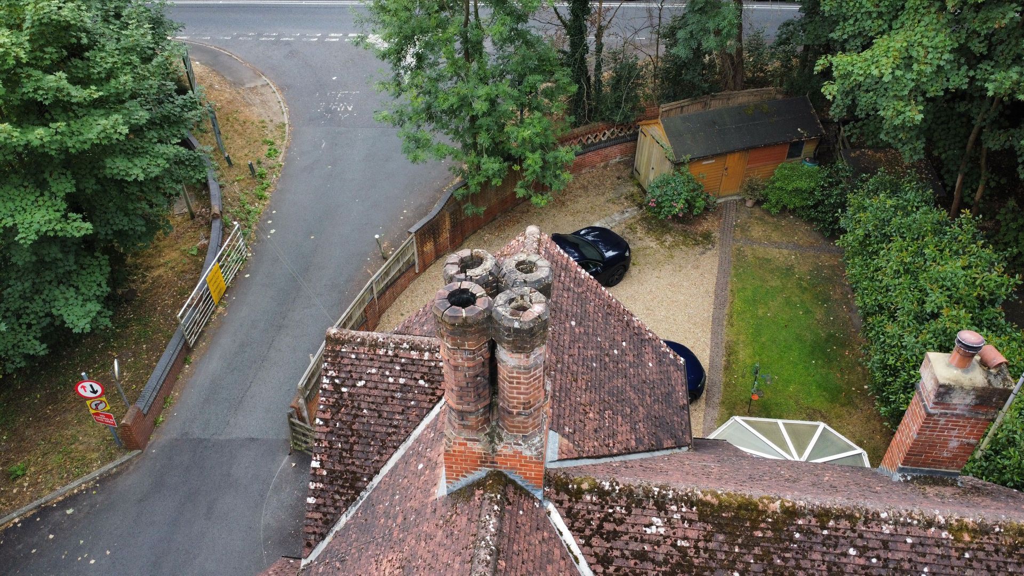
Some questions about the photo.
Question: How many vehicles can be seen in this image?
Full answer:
There are 2 vehicles in the image.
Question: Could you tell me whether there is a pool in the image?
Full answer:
No, no pool can be seen from above.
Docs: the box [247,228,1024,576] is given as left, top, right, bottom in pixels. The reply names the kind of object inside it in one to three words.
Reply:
house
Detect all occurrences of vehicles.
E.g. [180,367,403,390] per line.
[652,331,709,398]
[540,232,635,288]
